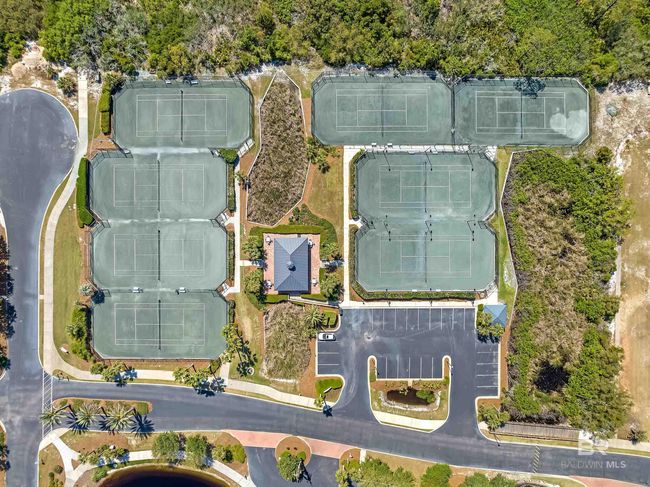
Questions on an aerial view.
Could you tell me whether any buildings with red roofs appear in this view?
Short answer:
No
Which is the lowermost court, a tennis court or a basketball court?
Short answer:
tennis court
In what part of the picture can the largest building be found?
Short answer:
center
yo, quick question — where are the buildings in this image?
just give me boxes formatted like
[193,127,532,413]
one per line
[482,305,507,327]
[274,237,308,291]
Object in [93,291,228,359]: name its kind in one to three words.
tennis court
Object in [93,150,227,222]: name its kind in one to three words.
tennis court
